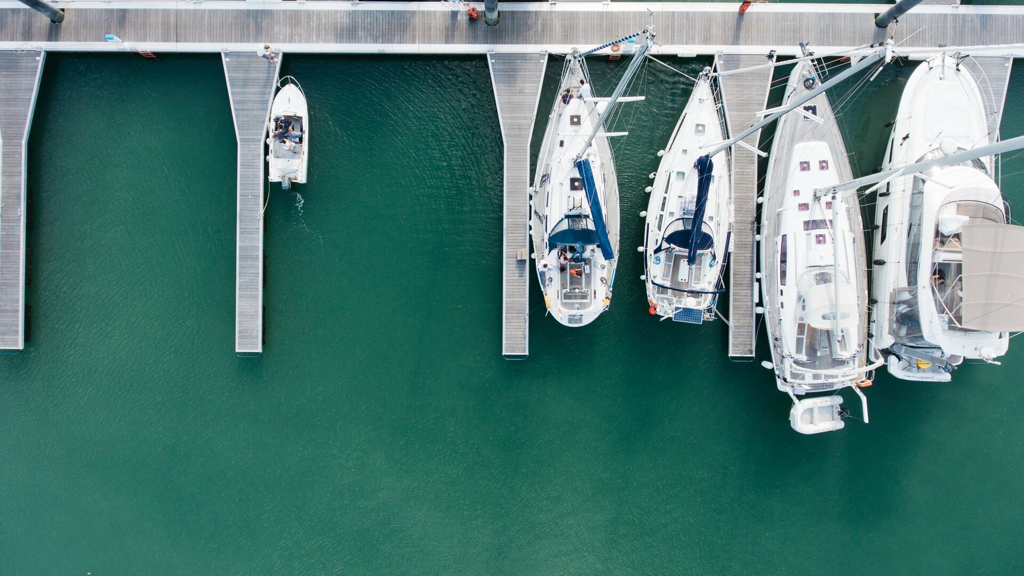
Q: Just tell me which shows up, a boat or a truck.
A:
boat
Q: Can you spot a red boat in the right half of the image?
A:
No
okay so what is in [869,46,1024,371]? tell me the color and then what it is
white boat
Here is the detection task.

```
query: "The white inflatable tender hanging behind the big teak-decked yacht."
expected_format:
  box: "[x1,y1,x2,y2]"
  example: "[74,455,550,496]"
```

[790,398,851,433]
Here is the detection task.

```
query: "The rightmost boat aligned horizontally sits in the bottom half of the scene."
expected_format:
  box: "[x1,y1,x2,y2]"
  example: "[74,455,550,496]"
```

[887,351,962,382]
